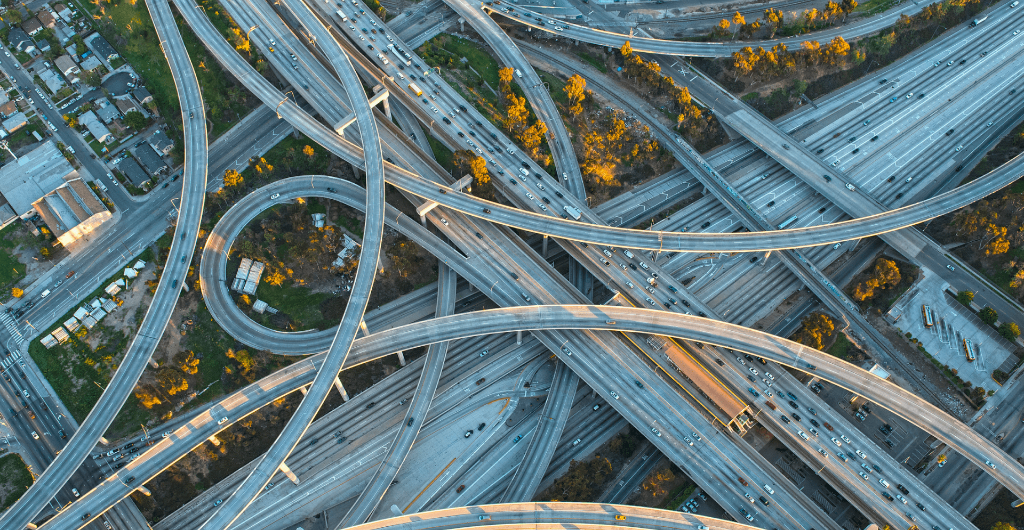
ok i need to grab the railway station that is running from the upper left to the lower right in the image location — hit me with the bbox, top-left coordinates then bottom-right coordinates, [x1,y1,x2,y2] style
[606,291,766,447]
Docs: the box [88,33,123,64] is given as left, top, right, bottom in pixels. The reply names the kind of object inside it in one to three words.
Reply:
house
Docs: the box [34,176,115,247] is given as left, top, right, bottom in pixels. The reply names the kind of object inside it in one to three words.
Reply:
building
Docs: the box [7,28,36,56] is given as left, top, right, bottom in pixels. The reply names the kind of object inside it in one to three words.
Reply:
house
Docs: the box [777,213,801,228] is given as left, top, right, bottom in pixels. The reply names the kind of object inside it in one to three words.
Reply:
vehicle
